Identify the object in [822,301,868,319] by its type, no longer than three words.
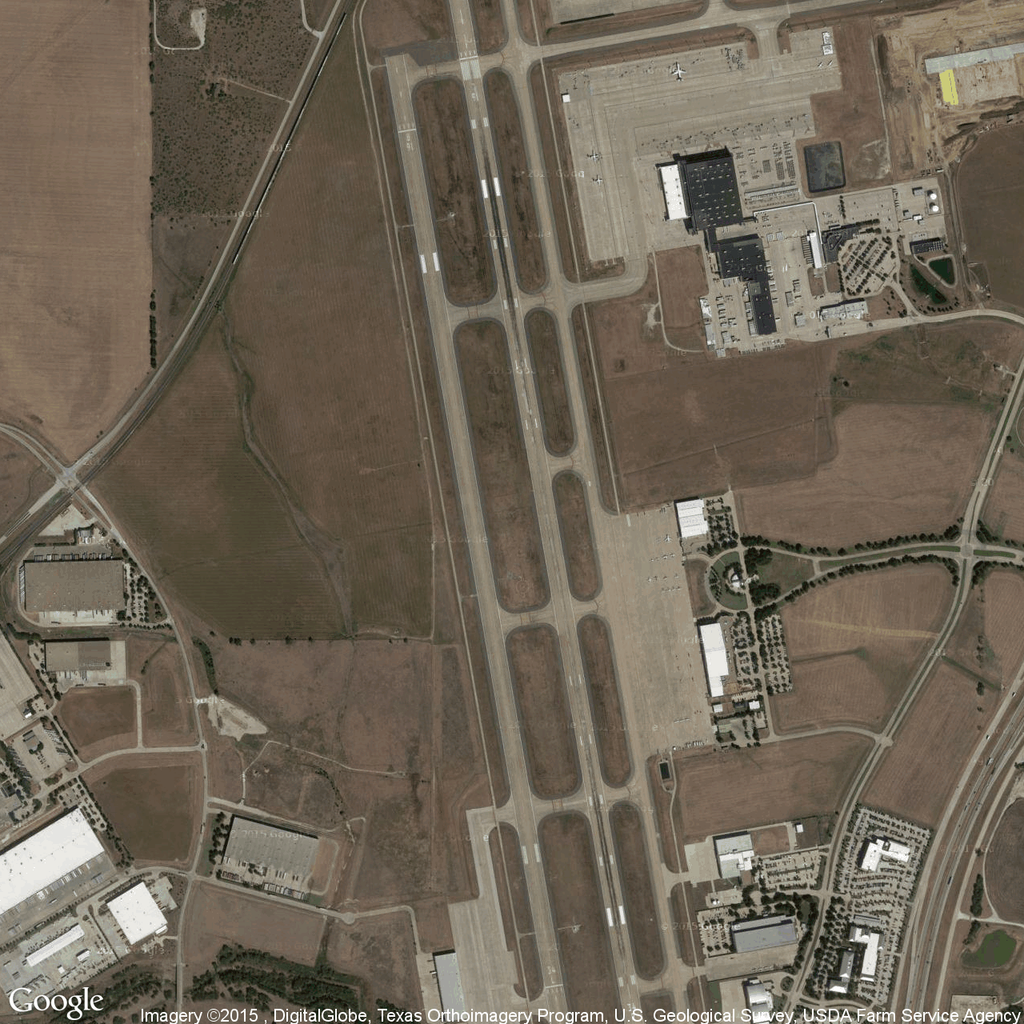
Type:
shed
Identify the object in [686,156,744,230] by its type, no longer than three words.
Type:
hangar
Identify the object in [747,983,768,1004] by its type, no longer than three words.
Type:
hangar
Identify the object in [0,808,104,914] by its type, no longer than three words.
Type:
building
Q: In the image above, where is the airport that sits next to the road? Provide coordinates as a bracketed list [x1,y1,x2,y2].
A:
[379,0,946,1024]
